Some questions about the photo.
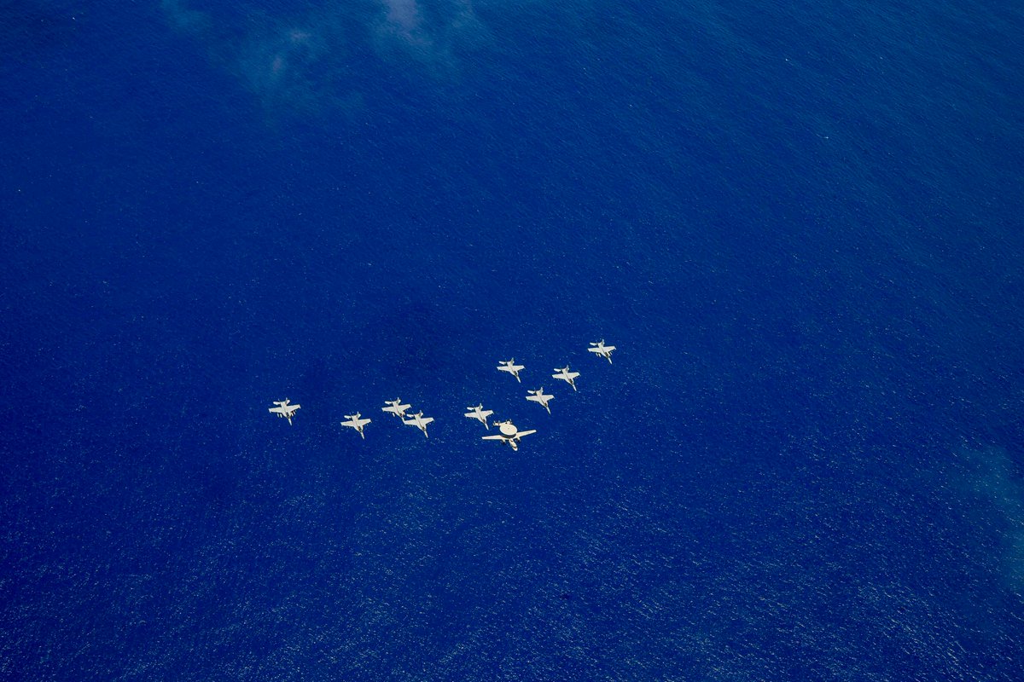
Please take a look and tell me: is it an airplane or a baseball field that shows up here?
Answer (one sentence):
The one in the frame is an airplane.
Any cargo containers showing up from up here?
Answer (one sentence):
No, the photo shows no cargo container.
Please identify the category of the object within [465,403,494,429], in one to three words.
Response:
airplane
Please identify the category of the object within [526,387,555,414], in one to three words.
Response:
airplane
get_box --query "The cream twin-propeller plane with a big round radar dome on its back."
[482,419,536,452]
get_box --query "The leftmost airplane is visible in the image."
[269,397,300,425]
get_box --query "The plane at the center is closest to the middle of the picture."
[497,357,525,383]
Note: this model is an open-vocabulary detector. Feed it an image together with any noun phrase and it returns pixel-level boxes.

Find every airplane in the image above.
[341,412,372,439]
[482,419,536,452]
[588,339,616,364]
[382,397,412,424]
[465,403,494,429]
[497,357,525,383]
[552,365,581,391]
[526,387,555,414]
[269,397,300,425]
[404,410,434,438]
